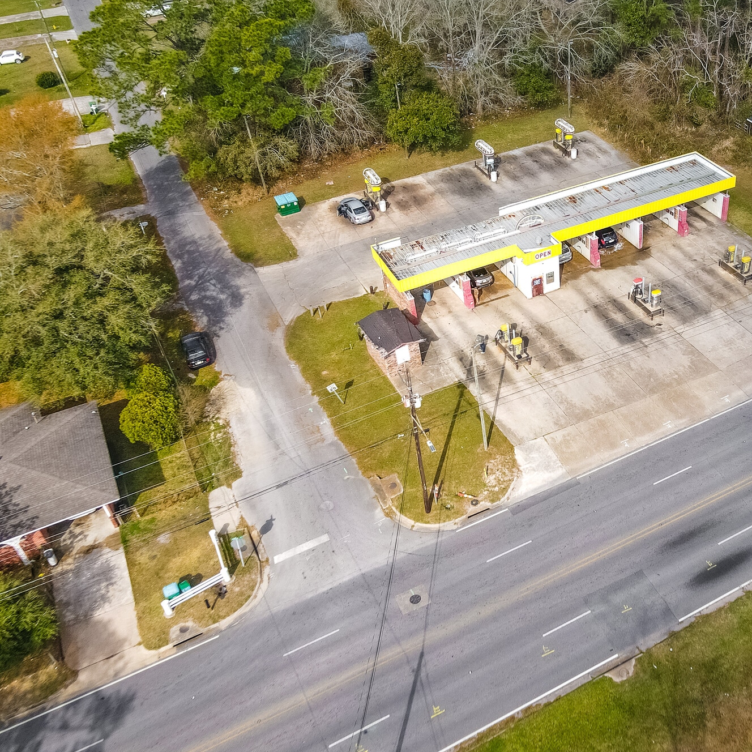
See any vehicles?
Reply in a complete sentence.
Yes, looking at the shot, I can spot a vehicle.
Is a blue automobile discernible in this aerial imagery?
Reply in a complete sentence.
No, this view has no blue automobile in it.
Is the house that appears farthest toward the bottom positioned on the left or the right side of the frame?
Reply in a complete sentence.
The house that appears farthest toward the bottom sits on the left side.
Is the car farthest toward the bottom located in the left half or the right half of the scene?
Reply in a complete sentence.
The car farthest toward the bottom sits on the left side.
